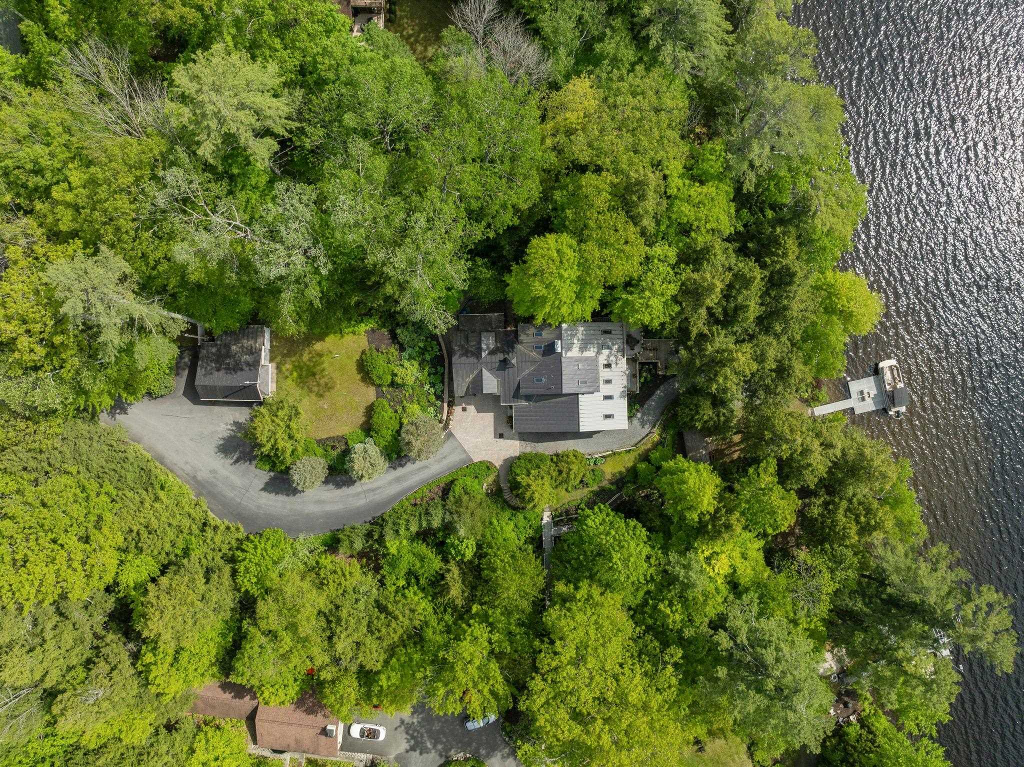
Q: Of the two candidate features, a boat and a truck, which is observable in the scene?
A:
boat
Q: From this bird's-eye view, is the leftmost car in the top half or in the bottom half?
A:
bottom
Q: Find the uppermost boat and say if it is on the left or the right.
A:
right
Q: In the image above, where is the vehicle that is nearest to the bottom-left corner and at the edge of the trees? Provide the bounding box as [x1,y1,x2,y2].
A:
[348,723,386,744]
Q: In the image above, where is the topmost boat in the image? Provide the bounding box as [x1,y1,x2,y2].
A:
[881,363,914,419]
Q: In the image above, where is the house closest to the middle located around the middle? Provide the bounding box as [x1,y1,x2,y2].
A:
[451,315,627,432]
